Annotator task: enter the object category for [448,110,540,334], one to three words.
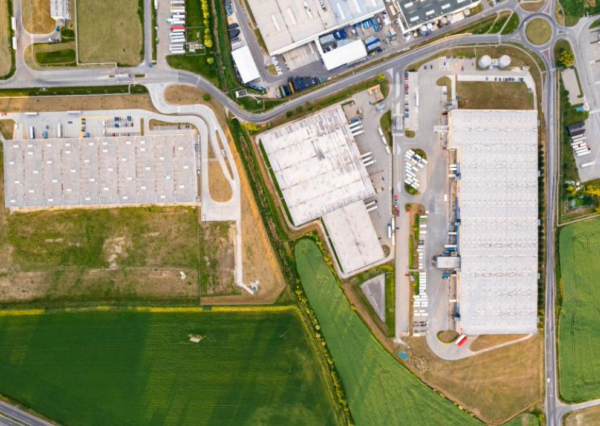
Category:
building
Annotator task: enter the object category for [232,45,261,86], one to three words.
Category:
shed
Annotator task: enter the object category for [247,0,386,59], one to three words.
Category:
building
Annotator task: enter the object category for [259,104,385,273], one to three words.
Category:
warehouse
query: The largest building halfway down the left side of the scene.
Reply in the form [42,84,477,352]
[4,132,199,207]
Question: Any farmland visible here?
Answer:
Yes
